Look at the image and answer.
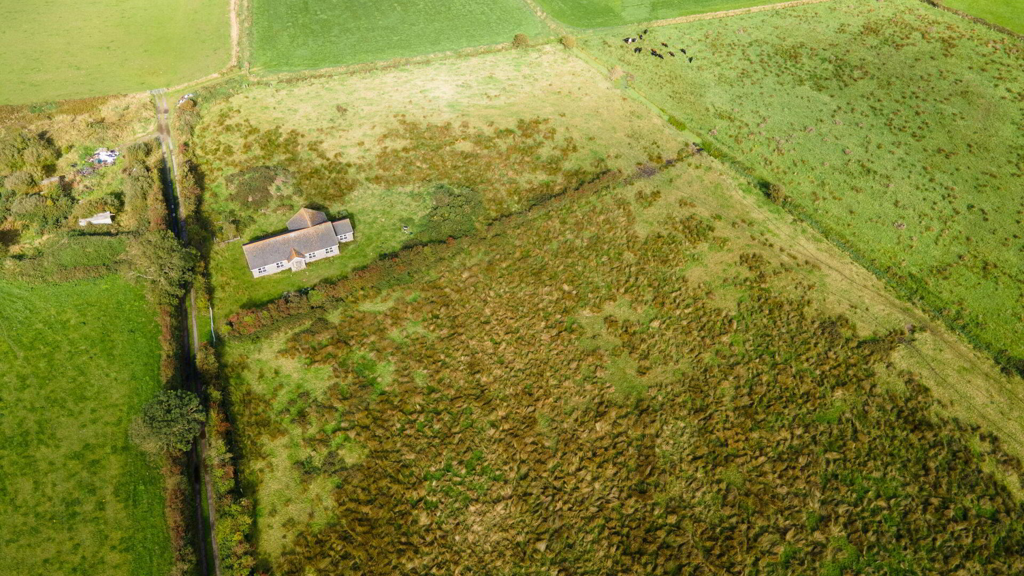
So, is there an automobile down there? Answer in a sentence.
No, no automobile can be seen from above.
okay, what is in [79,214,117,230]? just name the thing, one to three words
shed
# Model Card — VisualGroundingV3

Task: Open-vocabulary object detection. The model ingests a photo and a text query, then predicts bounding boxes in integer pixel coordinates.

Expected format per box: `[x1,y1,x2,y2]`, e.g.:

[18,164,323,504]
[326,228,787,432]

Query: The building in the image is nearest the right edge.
[243,207,354,278]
